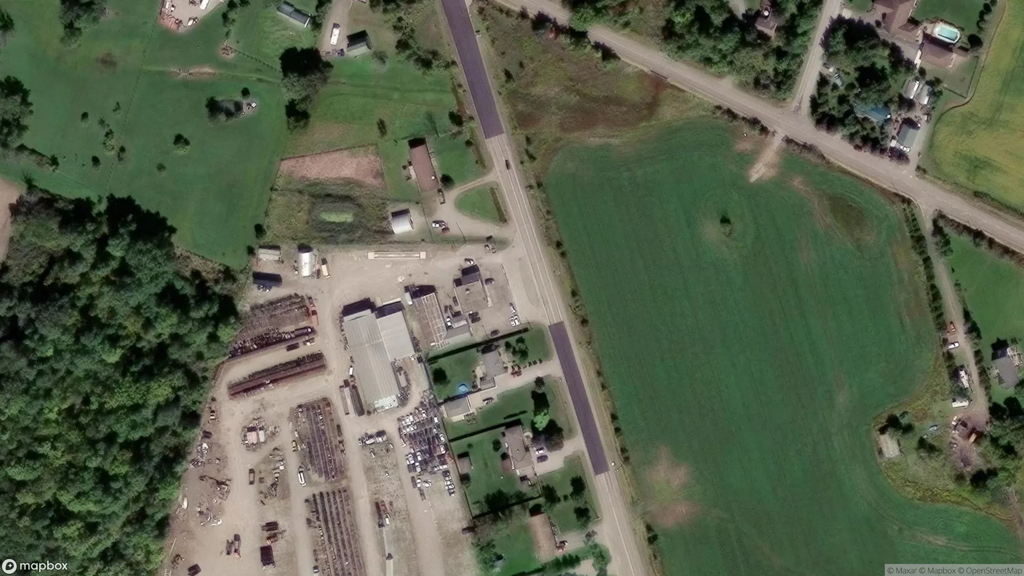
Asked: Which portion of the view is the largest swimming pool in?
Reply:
top right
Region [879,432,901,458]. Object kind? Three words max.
shed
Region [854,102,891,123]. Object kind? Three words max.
house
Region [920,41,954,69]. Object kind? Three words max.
building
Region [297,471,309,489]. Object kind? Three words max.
vehicle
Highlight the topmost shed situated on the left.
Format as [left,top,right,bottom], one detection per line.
[277,1,312,27]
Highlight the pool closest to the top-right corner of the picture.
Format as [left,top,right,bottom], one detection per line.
[934,24,960,44]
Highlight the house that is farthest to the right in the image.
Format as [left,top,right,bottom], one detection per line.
[992,355,1020,389]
